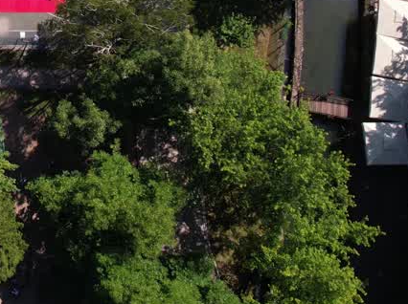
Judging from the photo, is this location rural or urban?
rural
